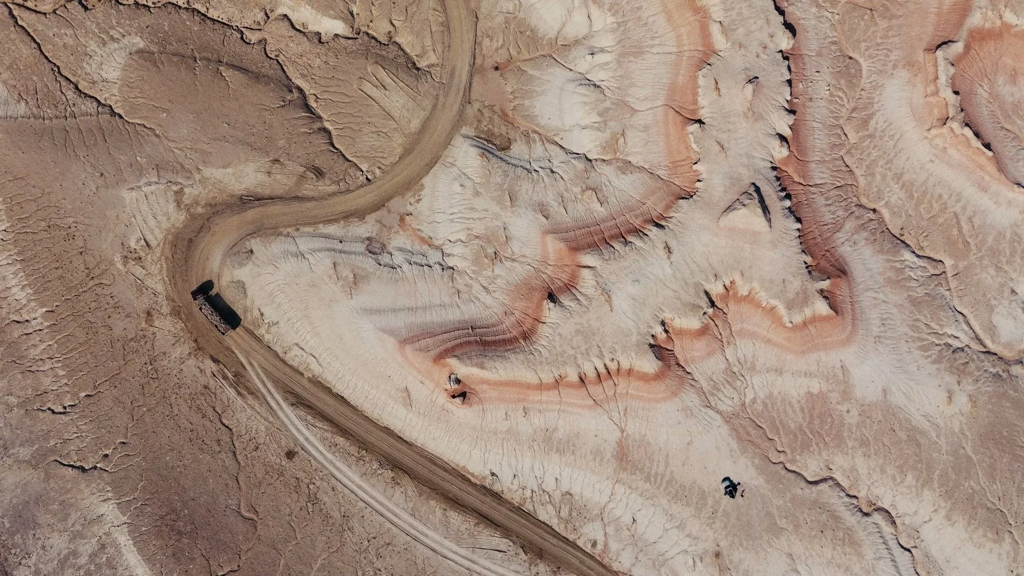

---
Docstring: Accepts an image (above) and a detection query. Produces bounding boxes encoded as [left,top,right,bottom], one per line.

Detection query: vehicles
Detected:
[721,478,736,500]
[190,286,238,337]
